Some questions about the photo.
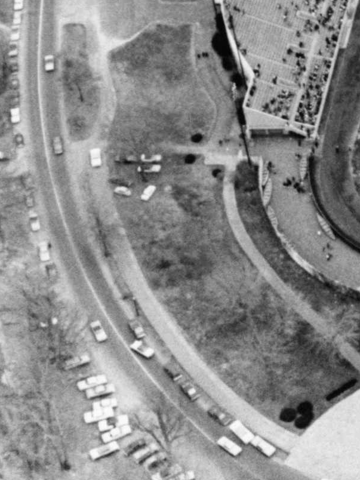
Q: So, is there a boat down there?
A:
No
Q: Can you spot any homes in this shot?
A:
No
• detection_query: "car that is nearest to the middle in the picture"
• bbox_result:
[140,185,156,202]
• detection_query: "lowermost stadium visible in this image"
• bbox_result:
[154,146,360,366]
